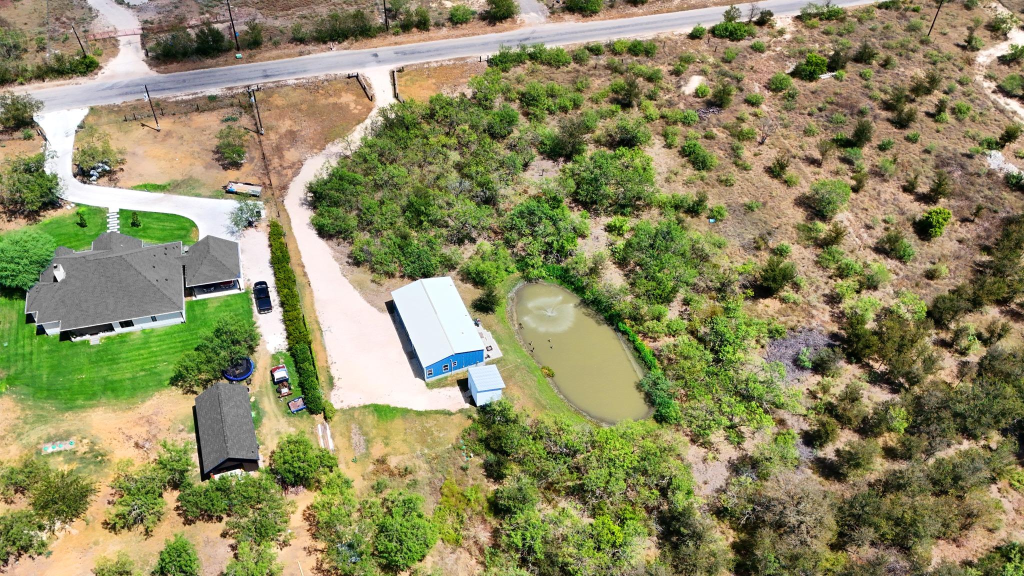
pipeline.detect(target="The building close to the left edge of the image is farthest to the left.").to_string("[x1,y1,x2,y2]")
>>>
[19,232,195,346]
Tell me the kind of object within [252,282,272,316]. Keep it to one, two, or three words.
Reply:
vehicle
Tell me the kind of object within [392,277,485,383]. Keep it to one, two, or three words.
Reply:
building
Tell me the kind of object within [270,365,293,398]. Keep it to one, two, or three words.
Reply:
truck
